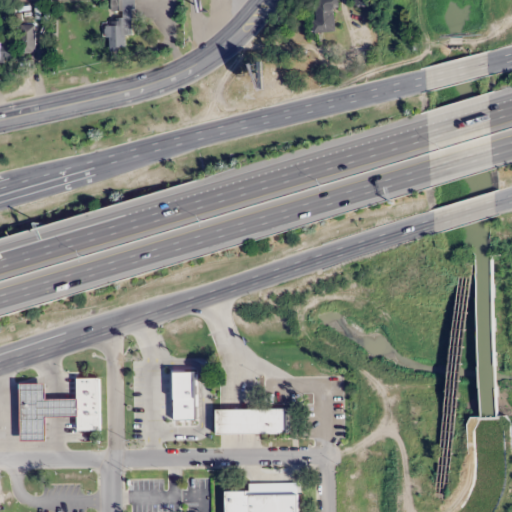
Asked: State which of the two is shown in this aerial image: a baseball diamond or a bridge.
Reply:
bridge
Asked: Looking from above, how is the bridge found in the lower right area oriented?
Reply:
from top to bottom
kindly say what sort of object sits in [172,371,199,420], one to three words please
building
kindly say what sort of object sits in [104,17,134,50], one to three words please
house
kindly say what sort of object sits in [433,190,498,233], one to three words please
bridge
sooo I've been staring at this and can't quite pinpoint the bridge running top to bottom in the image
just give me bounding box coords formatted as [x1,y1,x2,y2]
[434,264,474,499]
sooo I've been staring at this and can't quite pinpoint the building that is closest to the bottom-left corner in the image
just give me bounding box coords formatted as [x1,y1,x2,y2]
[76,377,102,431]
